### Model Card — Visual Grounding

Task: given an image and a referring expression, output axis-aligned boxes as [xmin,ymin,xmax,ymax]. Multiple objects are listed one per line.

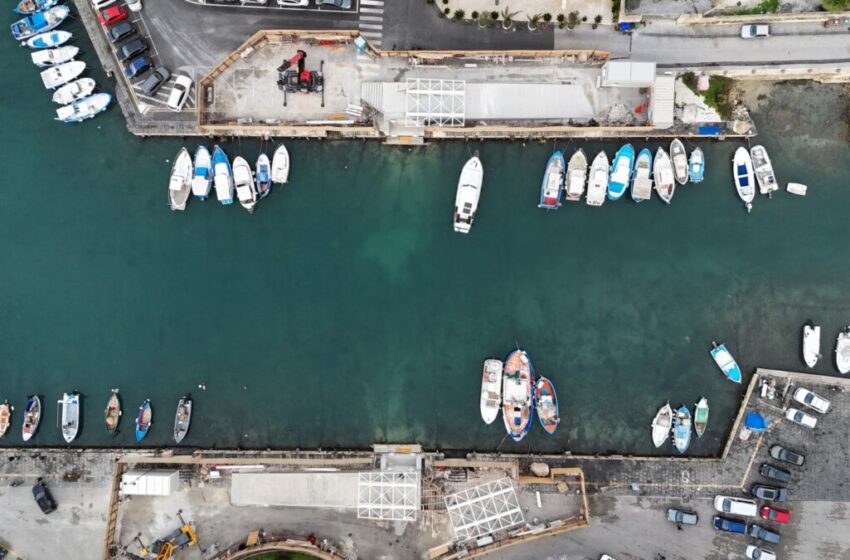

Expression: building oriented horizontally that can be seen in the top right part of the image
[603,62,657,86]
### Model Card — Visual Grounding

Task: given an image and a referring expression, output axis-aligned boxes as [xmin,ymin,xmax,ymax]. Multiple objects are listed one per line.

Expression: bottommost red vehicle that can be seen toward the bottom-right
[757,504,789,522]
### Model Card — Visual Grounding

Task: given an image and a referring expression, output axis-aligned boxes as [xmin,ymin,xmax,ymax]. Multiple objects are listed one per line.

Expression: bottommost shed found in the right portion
[648,75,676,129]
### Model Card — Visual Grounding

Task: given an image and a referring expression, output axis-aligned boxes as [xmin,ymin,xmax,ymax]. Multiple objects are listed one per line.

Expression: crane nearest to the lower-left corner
[125,509,208,560]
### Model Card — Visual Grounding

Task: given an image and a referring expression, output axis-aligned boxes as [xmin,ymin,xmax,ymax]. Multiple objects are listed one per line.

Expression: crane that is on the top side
[276,50,325,109]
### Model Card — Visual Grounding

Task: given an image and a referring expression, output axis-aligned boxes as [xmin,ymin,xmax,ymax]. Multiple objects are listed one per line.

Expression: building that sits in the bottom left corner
[122,470,178,495]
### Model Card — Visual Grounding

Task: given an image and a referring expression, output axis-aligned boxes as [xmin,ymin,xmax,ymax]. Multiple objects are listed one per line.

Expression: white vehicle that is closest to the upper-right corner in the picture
[739,24,769,40]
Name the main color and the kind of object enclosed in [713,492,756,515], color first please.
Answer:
white vehicle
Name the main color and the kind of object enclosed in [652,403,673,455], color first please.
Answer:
white boat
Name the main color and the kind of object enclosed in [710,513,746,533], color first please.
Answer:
blue car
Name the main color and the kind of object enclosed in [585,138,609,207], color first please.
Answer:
white boat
